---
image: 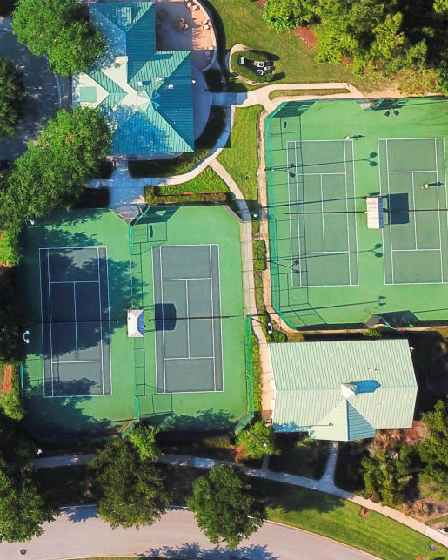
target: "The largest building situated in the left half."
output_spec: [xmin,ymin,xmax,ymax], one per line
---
[72,1,194,152]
